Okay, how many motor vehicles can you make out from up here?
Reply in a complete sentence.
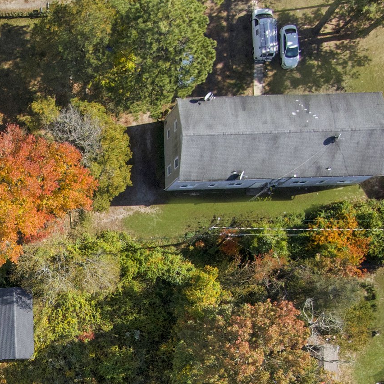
The photo contains 2 motor vehicles.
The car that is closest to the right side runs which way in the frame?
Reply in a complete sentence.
The car that is closest to the right side is laid out from top to bottom.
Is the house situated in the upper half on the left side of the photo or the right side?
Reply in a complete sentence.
You can find the house situated in the upper half on the right side of the picture.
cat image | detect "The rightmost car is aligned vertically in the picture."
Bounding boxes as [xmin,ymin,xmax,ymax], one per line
[278,23,303,72]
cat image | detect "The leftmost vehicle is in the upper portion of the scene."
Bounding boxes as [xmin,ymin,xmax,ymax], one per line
[249,9,277,64]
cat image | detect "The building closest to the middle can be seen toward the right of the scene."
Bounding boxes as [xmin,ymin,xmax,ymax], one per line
[166,88,384,194]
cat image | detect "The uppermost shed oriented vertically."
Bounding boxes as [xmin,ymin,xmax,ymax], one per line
[0,287,34,360]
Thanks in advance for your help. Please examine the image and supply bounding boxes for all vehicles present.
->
[249,9,277,64]
[278,23,303,72]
